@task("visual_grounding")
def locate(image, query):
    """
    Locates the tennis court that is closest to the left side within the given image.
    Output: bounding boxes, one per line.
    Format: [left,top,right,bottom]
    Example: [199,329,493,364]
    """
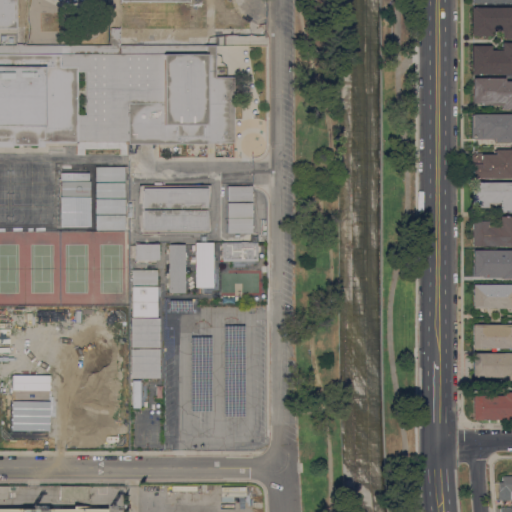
[0,244,22,294]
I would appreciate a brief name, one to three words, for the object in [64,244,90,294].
tennis court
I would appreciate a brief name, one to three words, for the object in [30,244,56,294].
tennis court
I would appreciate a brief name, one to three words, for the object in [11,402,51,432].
shed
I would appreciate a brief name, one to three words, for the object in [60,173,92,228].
building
